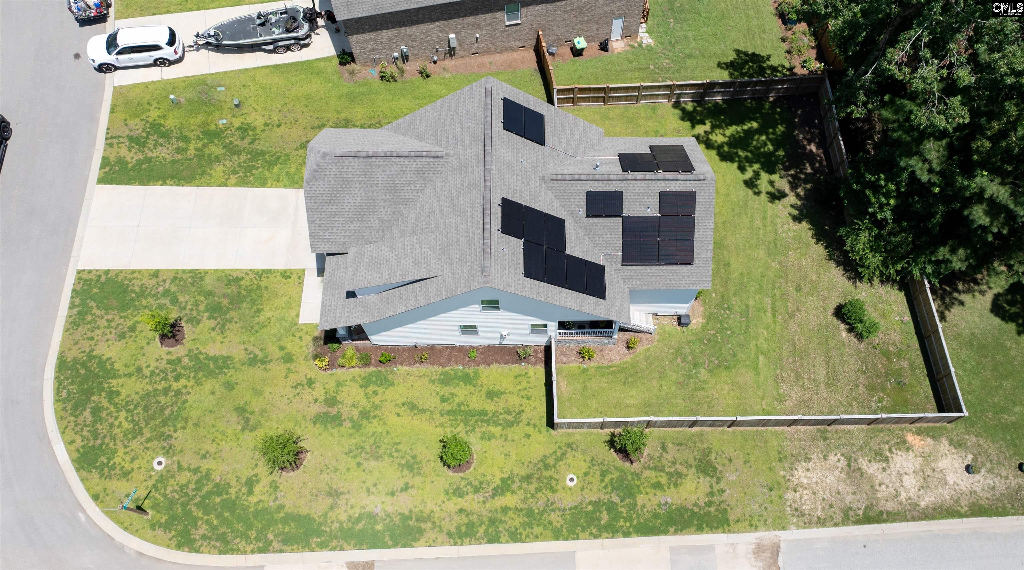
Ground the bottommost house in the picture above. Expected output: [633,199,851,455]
[302,77,717,347]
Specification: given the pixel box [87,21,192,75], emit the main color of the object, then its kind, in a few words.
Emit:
white car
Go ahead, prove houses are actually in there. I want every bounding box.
[330,0,645,65]
[302,77,717,347]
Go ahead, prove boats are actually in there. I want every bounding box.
[187,0,334,42]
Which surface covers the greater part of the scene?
grass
